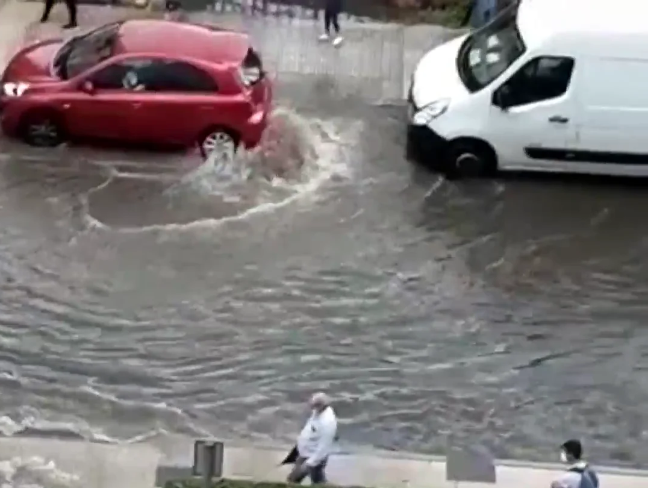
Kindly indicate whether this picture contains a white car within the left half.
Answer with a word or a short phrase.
No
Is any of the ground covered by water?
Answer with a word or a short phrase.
Yes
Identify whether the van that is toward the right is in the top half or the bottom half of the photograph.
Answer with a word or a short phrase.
top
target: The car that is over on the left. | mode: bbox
[2,25,268,162]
